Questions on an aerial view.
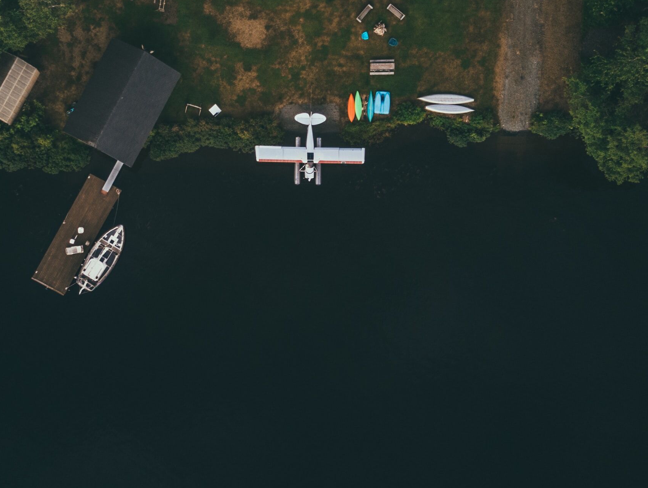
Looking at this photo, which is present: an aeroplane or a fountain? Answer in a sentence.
I can see an aeroplane in this picture.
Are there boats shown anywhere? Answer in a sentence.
Yes, a boat appears in the view.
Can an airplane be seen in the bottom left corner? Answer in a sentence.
No, no airplane is visible in the bottom left corner.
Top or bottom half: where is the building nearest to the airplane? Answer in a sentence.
It is in the top half that the building nearest to the airplane appears.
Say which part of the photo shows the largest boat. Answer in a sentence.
Look in the left portion of the view to spot the largest boat.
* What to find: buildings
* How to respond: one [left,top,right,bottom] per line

[0,52,43,124]
[63,38,181,167]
